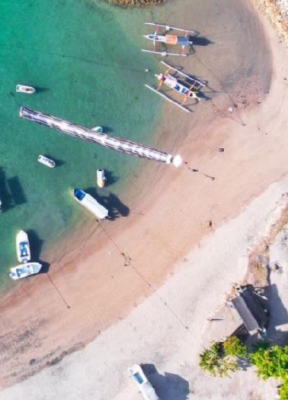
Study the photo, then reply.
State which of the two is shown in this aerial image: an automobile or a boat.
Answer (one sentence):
Looking from above, you can make out a boat.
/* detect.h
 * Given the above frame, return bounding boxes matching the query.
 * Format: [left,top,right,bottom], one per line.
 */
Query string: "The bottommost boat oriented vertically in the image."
[18,231,31,265]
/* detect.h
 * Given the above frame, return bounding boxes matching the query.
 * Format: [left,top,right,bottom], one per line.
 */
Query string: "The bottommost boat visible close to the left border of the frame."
[10,264,42,280]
